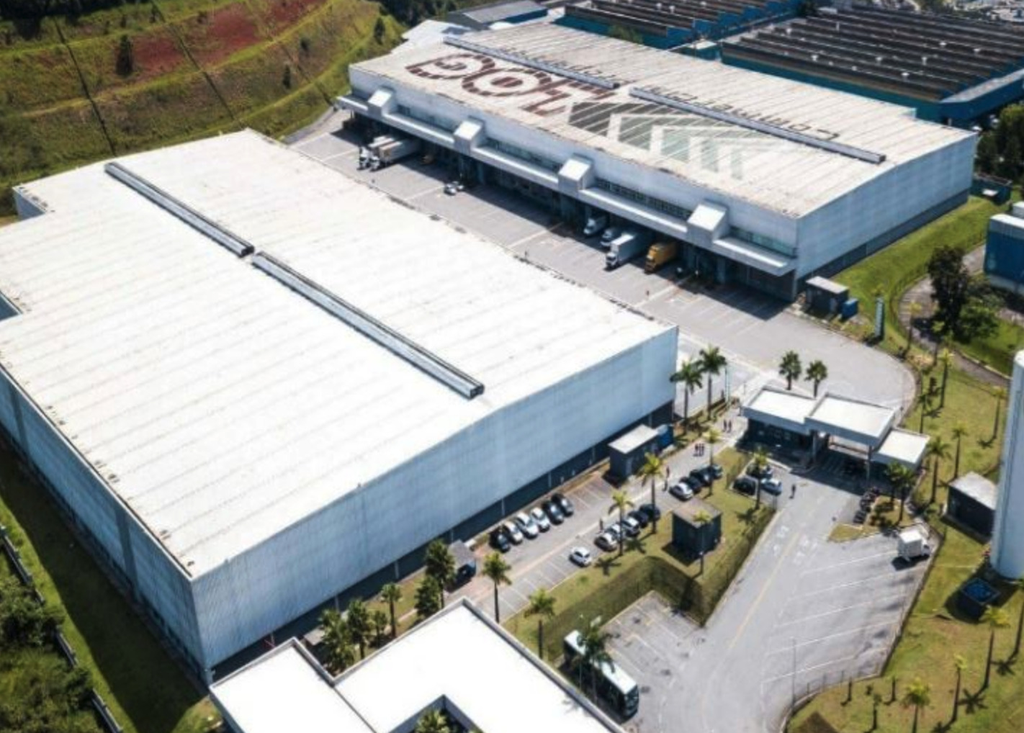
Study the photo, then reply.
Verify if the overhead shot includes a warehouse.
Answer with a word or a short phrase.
Yes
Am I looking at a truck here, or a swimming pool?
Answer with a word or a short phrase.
truck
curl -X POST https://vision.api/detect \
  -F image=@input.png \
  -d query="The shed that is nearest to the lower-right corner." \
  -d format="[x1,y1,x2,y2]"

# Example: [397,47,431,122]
[947,472,998,536]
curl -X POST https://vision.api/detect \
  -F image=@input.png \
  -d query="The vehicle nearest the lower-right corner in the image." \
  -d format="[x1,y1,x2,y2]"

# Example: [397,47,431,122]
[898,527,934,560]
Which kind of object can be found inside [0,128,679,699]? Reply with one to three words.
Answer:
warehouse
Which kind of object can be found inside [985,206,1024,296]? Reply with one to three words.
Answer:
building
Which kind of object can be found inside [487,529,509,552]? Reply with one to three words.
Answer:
car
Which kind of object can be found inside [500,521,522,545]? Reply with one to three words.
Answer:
car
